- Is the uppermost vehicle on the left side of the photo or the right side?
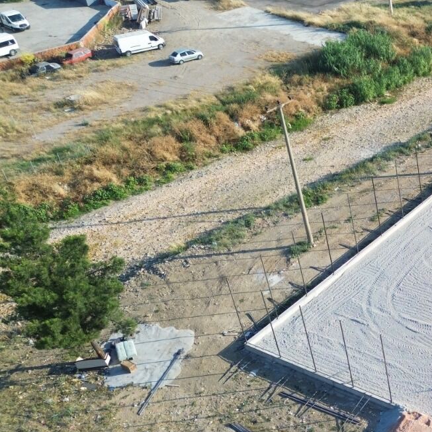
left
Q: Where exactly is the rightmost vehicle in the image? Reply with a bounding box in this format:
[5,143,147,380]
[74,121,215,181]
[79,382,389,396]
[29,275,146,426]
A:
[168,48,205,64]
